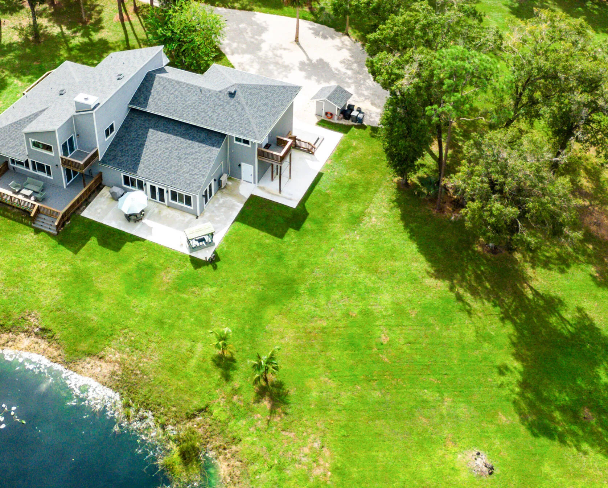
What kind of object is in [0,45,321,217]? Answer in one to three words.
house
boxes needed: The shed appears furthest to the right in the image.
[313,82,350,122]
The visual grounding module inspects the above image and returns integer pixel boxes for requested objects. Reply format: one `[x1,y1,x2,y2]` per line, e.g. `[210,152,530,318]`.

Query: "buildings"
[0,45,321,217]
[313,82,350,122]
